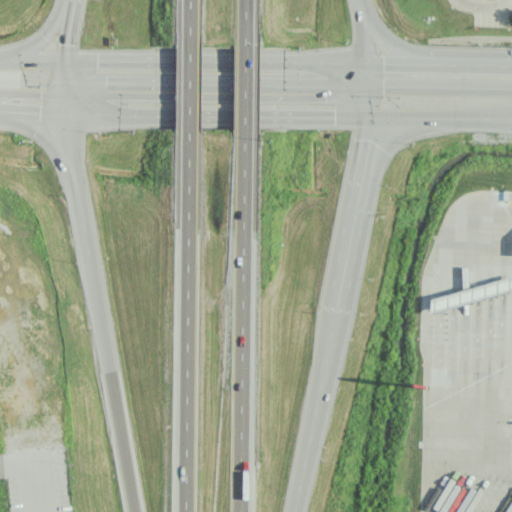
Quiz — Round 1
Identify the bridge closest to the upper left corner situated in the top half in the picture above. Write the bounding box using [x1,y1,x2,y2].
[174,44,203,134]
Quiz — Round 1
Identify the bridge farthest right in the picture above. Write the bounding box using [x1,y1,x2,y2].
[233,44,260,134]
